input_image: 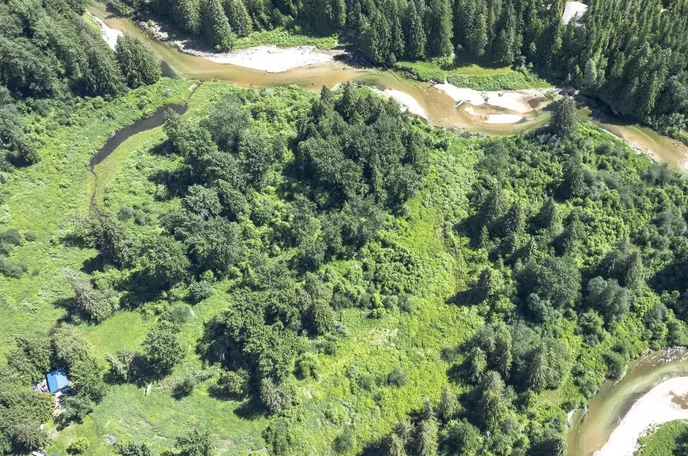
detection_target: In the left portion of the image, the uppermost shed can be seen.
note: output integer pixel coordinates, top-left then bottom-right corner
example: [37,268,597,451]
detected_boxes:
[47,369,73,398]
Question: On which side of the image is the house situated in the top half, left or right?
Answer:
right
